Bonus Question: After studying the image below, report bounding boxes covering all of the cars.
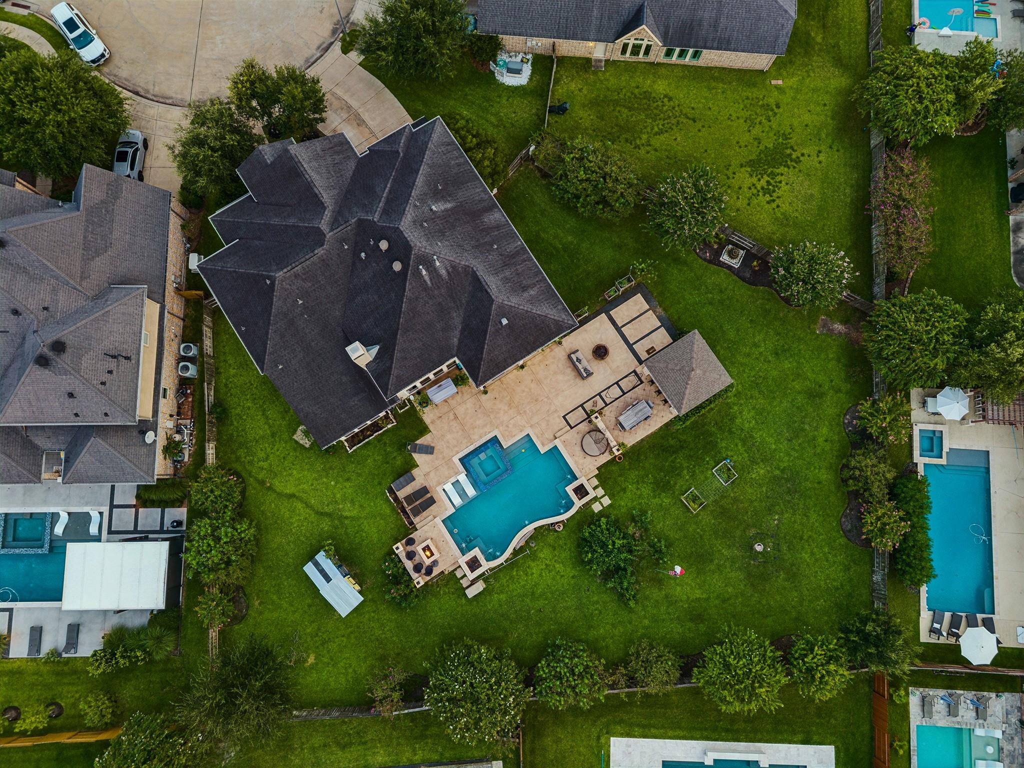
[109,131,150,184]
[48,0,116,74]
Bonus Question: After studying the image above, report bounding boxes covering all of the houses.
[195,116,578,450]
[0,163,189,486]
[462,0,798,72]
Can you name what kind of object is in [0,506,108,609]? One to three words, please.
swimming pool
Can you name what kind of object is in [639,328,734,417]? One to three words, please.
building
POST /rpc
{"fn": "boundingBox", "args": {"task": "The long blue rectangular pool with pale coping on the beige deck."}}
[918,442,1002,621]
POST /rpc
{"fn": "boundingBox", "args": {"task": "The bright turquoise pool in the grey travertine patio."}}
[914,722,1000,768]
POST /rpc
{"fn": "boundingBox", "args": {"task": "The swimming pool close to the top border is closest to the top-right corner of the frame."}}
[971,11,1004,39]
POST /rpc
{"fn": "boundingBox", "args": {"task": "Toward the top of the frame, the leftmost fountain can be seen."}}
[719,246,745,269]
